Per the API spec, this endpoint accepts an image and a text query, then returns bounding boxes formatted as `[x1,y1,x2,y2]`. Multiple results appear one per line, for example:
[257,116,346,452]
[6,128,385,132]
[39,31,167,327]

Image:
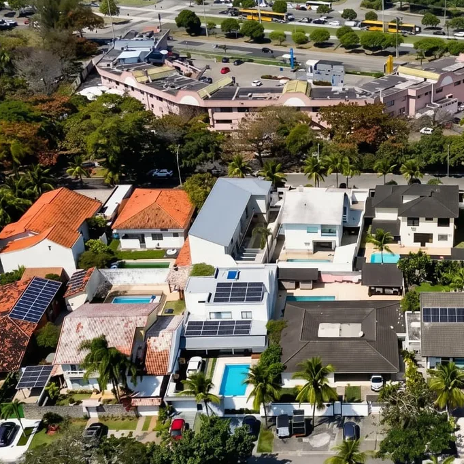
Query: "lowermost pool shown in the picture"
[216,362,253,398]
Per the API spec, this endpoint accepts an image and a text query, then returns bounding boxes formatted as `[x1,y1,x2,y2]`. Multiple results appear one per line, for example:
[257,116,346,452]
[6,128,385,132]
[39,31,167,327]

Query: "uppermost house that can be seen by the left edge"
[0,187,103,273]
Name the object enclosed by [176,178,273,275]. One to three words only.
house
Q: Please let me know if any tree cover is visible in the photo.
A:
Yes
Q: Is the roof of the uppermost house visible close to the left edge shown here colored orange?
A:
Yes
